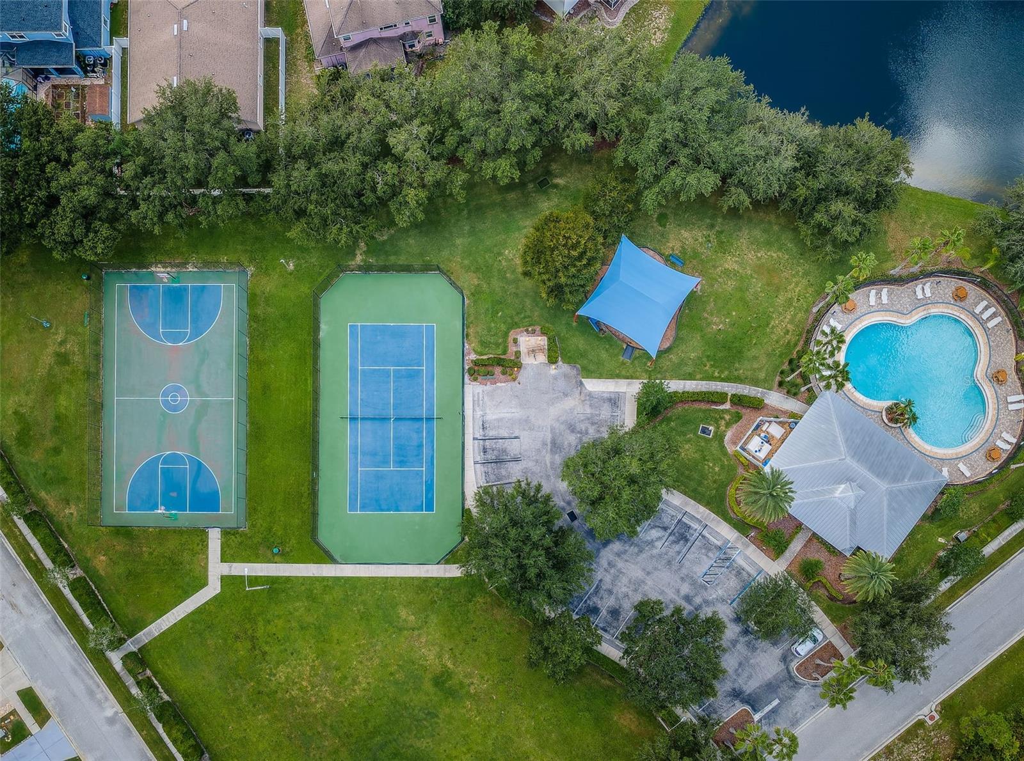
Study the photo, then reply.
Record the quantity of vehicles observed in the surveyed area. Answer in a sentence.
Altogether the scene contains 1 vehicle.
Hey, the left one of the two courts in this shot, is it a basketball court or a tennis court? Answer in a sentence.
The left one of the two courts appears to be a basketball court.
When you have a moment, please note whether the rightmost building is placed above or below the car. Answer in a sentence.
Looking at the scene, the rightmost building is located above the car.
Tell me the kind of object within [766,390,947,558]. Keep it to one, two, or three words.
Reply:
building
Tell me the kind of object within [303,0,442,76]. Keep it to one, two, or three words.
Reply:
house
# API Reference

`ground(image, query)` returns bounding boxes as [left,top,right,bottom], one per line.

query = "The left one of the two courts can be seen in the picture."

[101,271,248,527]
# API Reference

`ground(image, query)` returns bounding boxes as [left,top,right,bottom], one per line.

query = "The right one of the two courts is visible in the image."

[317,273,462,564]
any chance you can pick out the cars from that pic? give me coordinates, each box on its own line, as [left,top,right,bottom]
[792,628,826,659]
